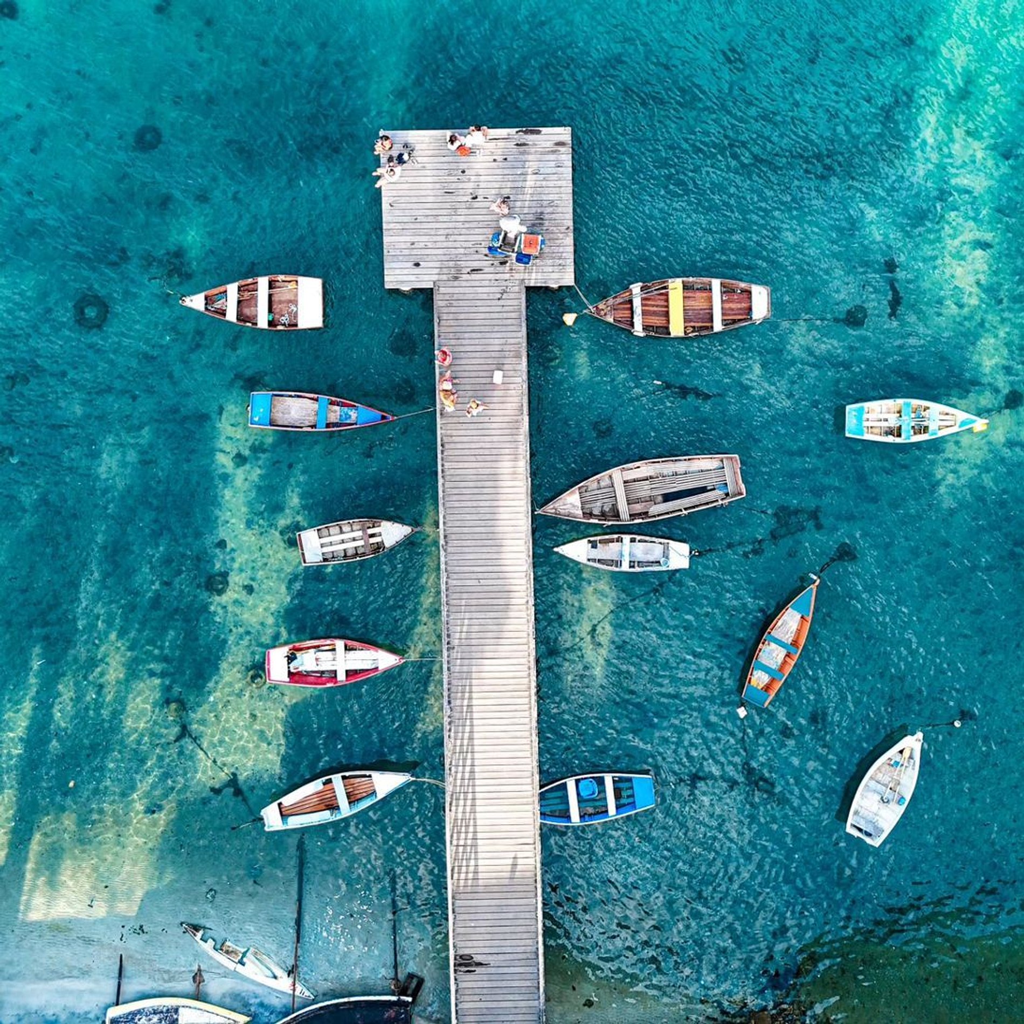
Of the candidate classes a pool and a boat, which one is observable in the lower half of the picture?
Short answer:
boat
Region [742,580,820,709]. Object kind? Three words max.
boat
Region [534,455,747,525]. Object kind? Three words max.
boat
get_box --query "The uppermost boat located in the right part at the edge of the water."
[582,277,773,337]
